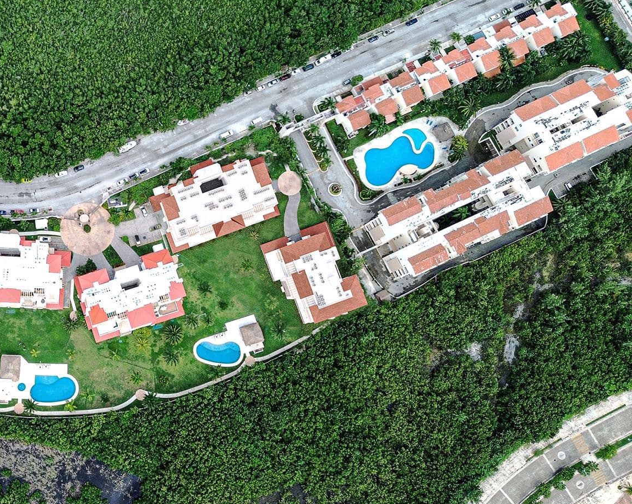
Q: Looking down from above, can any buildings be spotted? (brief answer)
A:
Yes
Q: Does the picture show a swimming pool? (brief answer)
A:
Yes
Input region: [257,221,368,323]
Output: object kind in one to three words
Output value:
building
